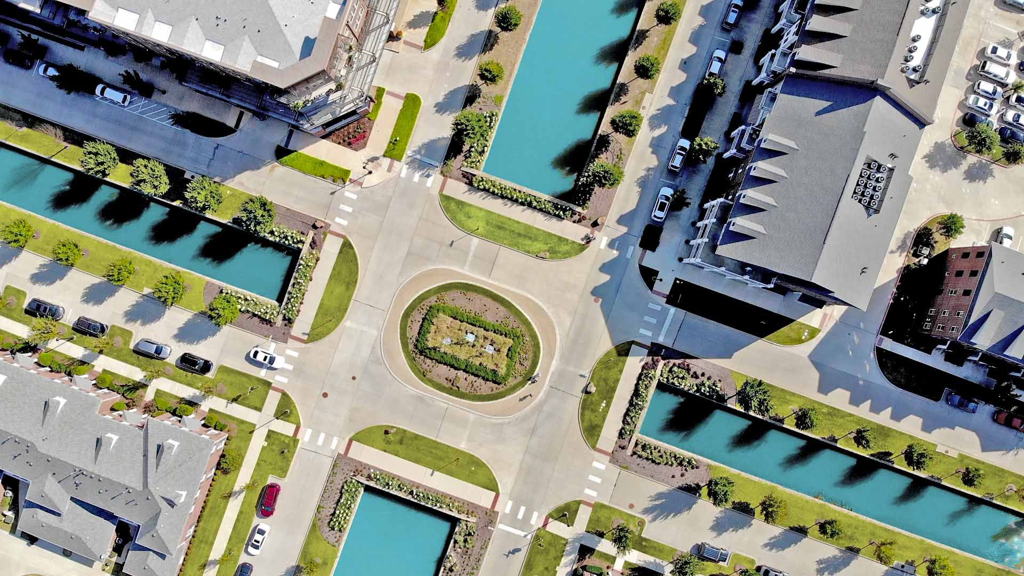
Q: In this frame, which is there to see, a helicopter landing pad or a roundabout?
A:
roundabout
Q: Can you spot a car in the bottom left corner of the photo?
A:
Yes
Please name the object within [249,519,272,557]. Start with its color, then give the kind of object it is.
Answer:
white car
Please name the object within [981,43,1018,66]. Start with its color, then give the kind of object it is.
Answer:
white car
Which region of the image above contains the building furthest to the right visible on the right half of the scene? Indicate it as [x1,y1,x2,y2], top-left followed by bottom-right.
[909,241,1024,383]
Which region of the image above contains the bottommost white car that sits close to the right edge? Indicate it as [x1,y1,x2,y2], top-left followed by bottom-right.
[995,220,1017,247]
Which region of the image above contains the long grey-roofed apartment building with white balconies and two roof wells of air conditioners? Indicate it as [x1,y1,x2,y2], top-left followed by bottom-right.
[682,0,979,309]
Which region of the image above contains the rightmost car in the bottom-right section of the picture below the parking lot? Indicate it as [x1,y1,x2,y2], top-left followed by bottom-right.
[991,408,1024,430]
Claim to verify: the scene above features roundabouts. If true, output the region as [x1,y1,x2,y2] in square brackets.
[380,266,560,419]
